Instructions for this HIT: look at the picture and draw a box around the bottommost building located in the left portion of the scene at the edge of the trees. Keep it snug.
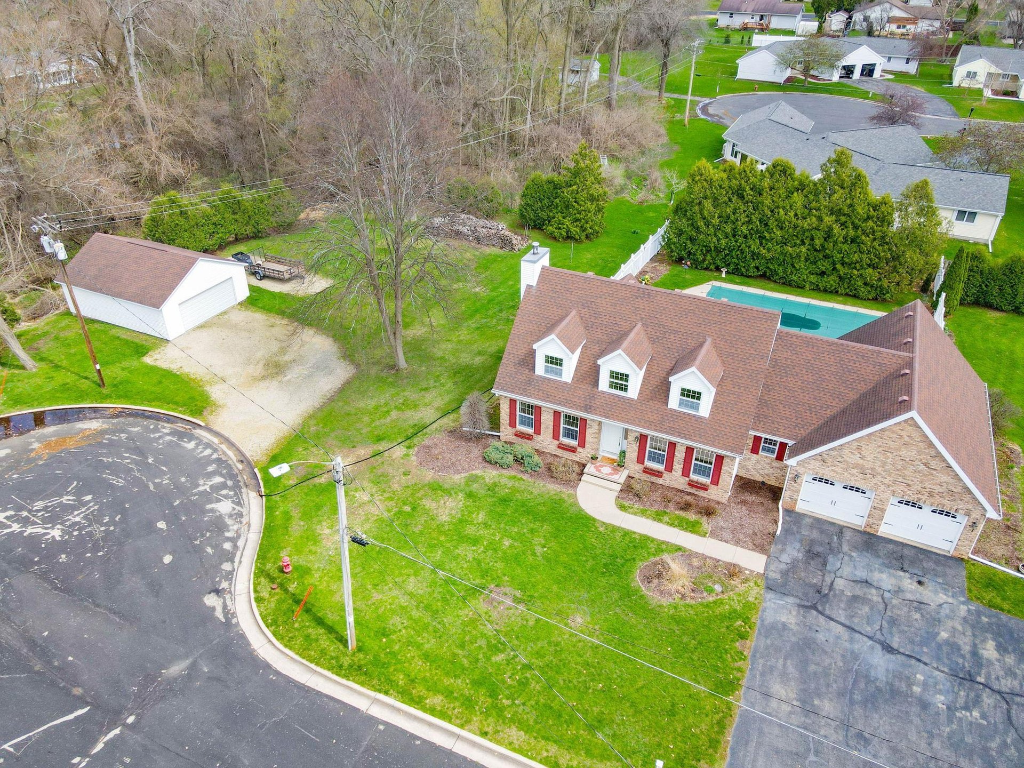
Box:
[52,235,251,340]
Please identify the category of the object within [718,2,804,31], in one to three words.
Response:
house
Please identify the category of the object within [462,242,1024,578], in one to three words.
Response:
house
